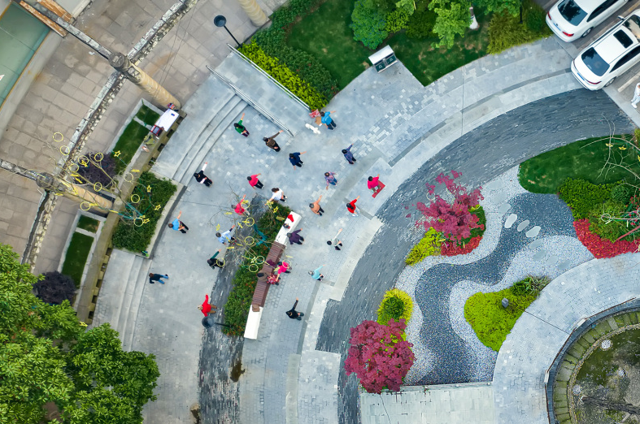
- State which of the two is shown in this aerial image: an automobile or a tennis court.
automobile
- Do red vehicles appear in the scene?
No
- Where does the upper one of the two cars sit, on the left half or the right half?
right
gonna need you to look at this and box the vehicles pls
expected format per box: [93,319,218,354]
[576,5,640,90]
[549,0,629,42]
